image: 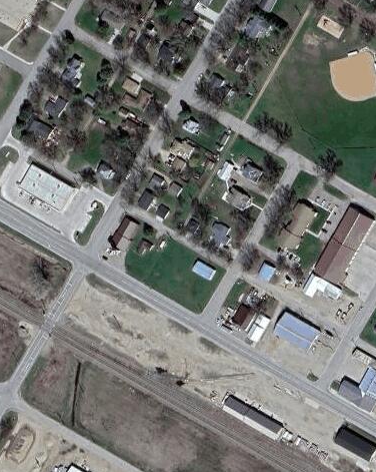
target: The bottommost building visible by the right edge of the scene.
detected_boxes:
[334,425,376,462]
